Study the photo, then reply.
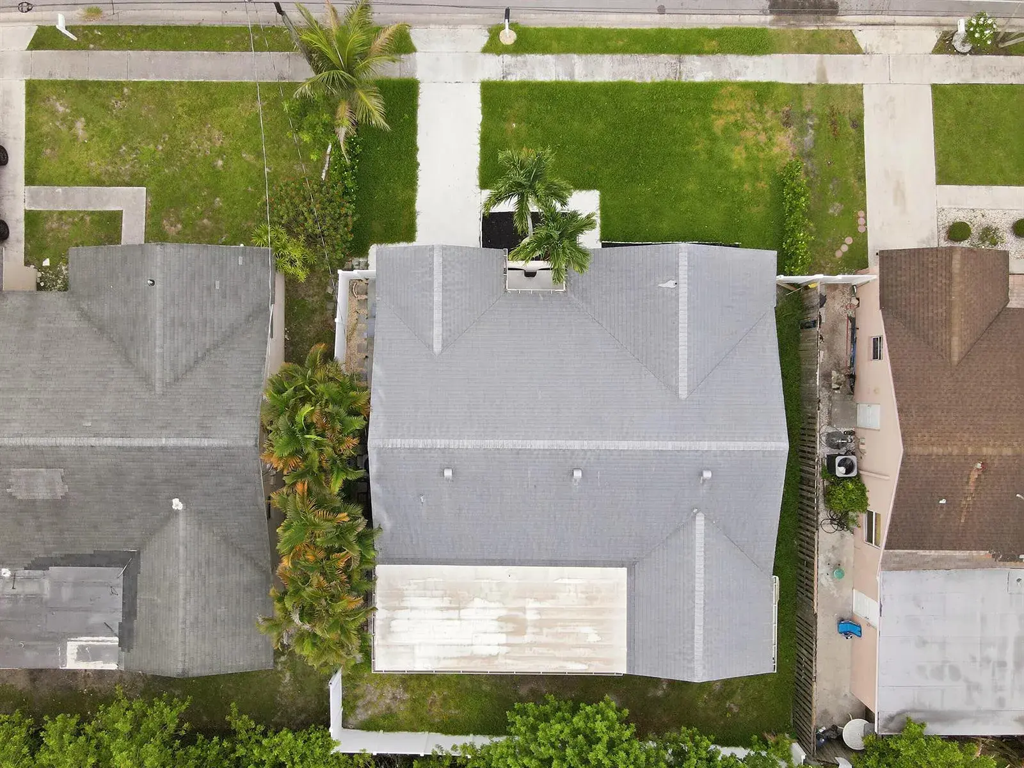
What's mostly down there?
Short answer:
buildings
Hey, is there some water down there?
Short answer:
No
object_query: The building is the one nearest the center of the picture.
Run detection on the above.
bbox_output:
[369,241,788,681]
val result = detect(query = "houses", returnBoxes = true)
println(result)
[0,242,287,680]
[369,241,788,681]
[851,248,1024,735]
